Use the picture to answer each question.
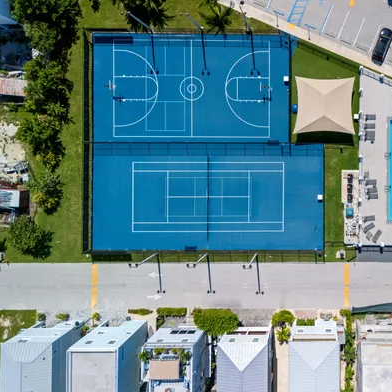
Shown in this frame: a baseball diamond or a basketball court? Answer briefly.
basketball court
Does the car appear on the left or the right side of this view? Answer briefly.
right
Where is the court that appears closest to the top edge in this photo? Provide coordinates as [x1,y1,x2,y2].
[93,29,299,143]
